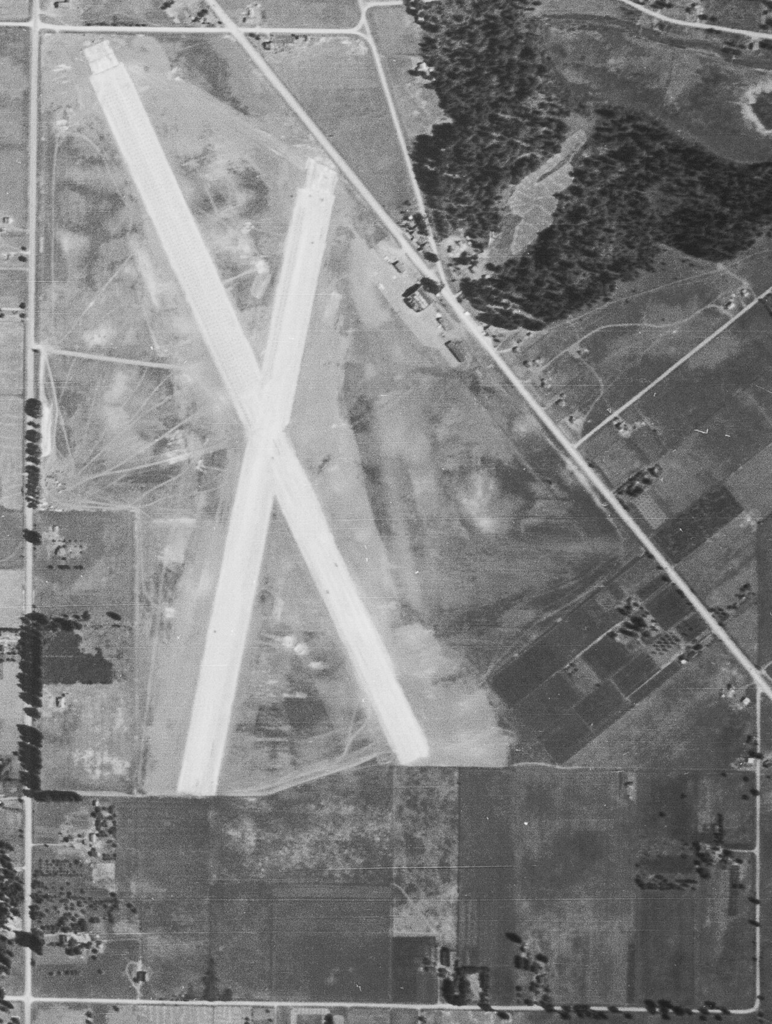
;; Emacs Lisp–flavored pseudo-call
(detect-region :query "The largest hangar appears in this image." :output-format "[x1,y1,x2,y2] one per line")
[406,284,434,312]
